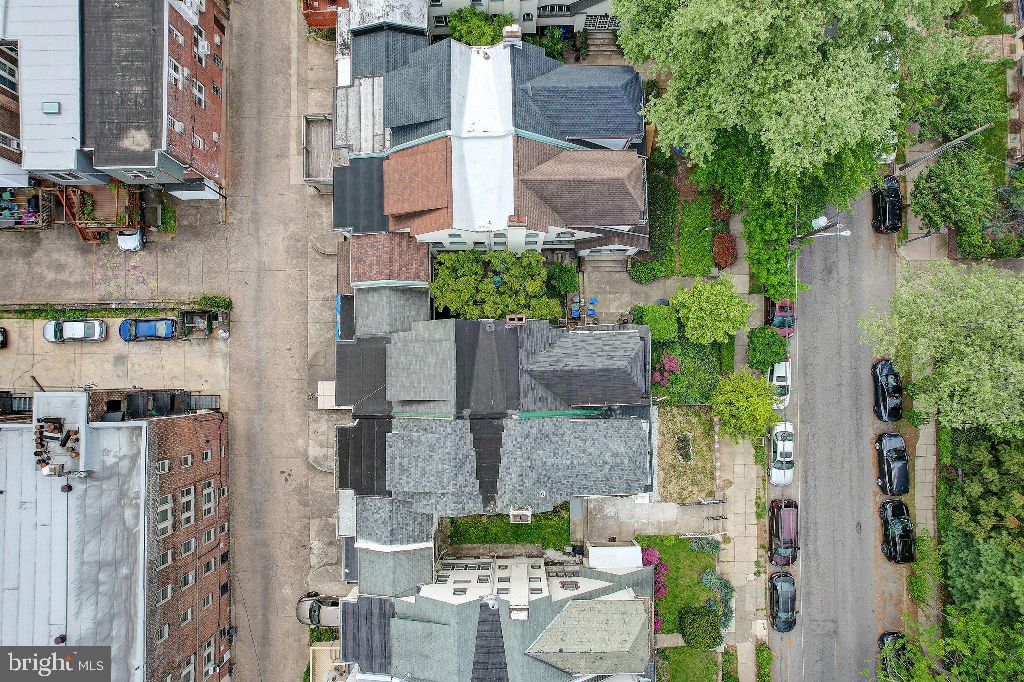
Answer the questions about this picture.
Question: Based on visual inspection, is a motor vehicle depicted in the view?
Yes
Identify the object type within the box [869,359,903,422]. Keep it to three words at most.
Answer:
car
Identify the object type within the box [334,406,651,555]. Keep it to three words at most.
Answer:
house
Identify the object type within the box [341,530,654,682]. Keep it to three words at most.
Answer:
house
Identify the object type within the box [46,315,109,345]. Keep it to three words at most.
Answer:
car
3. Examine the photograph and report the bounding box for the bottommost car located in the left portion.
[295,592,350,627]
